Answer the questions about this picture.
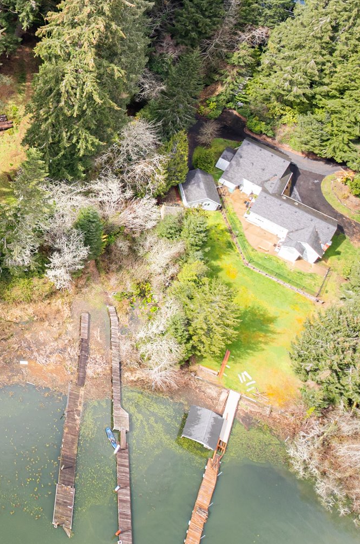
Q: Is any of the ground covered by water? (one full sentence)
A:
Yes, water can be seen from above here.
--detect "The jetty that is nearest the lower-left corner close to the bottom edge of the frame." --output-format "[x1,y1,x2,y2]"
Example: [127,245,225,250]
[52,484,75,538]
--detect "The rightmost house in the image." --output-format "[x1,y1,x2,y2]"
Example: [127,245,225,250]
[212,136,338,263]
